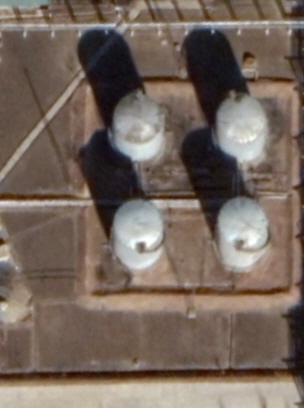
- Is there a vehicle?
No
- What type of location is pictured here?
industrial area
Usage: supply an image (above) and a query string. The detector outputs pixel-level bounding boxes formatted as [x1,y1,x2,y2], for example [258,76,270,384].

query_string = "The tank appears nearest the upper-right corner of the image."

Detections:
[215,93,272,193]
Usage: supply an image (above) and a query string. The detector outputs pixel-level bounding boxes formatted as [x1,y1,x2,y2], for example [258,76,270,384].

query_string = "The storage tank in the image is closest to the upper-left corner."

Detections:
[111,93,168,173]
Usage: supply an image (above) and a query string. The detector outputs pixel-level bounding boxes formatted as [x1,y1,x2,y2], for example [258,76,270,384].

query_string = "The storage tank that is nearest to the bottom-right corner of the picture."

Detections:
[216,201,273,269]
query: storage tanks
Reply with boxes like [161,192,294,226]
[111,93,168,173]
[216,201,273,269]
[215,93,272,193]
[111,201,168,269]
